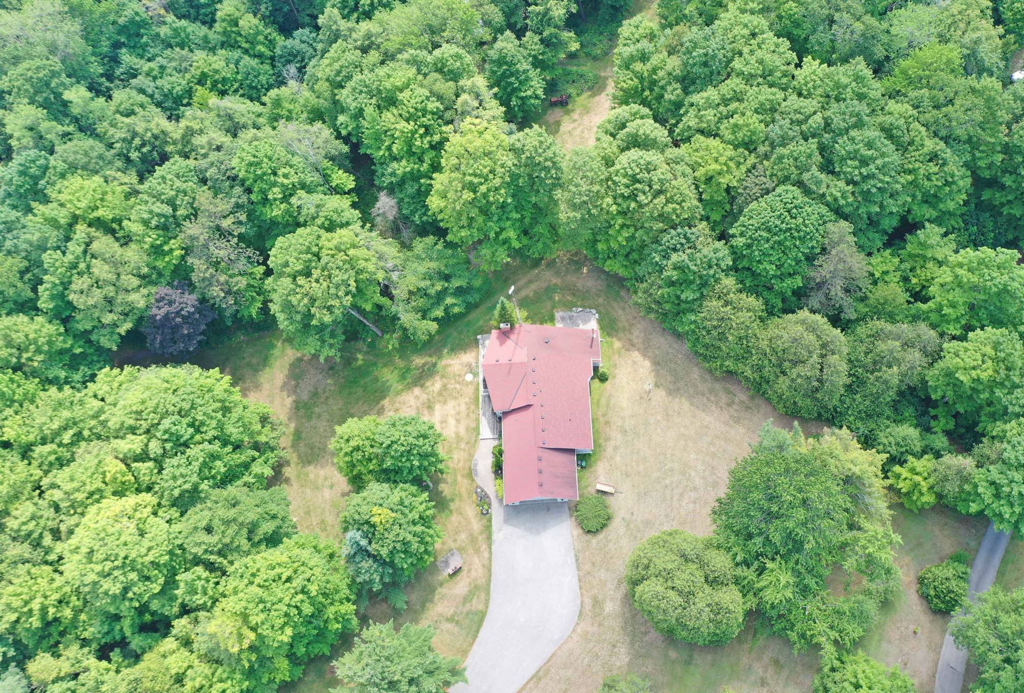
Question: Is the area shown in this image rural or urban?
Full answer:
This place is rural.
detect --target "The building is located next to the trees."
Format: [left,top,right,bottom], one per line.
[482,322,606,506]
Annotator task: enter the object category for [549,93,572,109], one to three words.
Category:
work vehicle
